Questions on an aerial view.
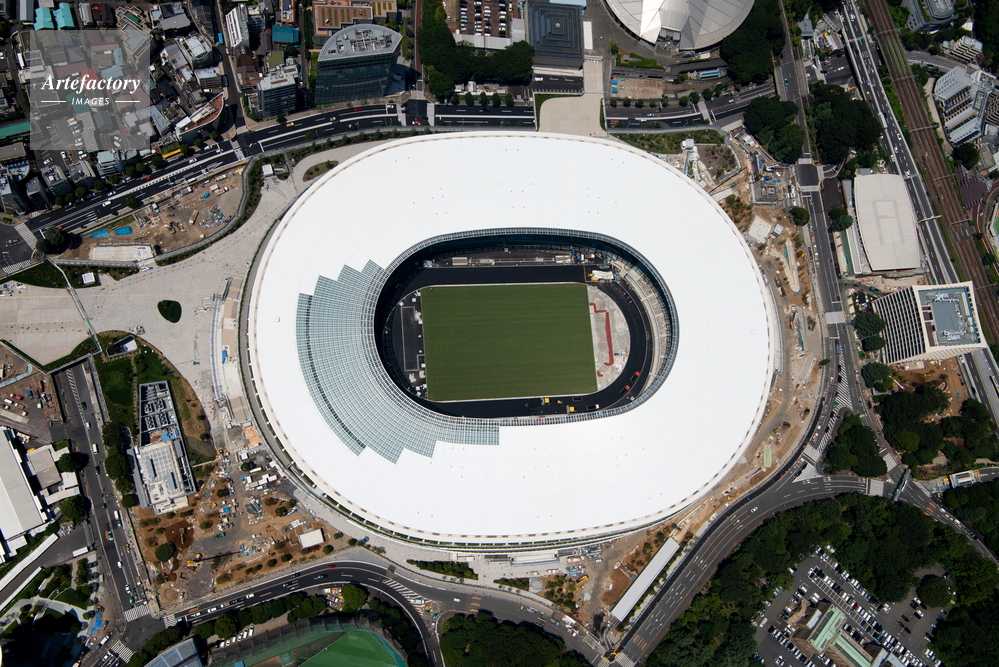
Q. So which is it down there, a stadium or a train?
stadium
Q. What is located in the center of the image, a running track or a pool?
running track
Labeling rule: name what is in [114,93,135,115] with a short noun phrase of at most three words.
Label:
house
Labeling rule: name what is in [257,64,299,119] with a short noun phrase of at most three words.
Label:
building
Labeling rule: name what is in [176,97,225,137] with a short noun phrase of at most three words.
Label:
building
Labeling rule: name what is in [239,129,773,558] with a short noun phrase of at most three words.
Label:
stadium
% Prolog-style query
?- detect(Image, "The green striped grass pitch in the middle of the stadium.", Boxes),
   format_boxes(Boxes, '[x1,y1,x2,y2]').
[421,285,597,401]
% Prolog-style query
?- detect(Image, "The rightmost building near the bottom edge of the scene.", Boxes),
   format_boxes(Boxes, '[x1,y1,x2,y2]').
[783,599,904,667]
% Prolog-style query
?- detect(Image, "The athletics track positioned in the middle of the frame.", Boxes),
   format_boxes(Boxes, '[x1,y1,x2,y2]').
[373,266,647,418]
